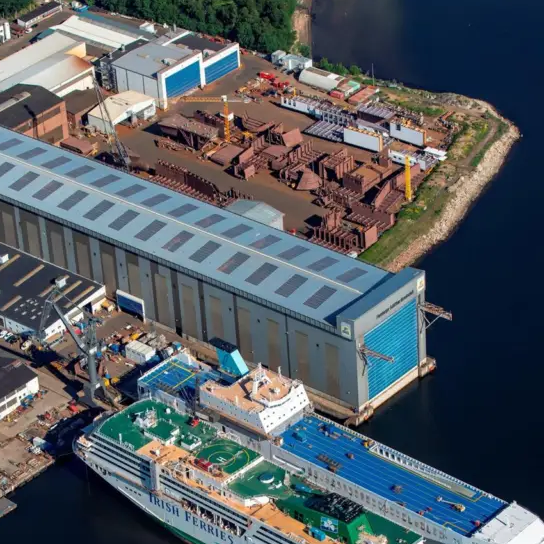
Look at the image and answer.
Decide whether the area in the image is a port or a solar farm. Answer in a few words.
port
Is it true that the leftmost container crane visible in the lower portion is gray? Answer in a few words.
Yes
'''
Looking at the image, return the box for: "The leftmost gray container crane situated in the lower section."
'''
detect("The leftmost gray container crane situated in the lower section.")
[37,294,110,413]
